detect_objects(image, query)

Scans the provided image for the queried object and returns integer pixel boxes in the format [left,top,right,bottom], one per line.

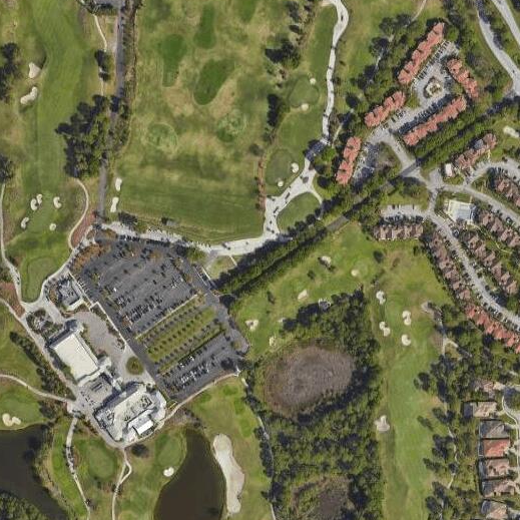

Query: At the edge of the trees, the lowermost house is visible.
[481,500,509,519]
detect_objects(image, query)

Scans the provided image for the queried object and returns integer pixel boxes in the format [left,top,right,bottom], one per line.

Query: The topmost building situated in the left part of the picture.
[56,275,87,310]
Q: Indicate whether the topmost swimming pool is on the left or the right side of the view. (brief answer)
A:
right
